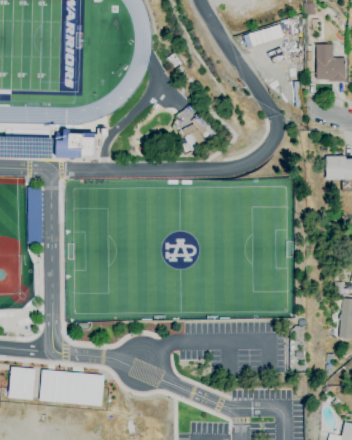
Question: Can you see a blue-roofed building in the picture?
Yes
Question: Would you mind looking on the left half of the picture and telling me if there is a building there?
Yes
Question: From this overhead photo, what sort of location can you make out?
sports ground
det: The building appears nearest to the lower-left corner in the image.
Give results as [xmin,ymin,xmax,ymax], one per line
[8,367,36,402]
